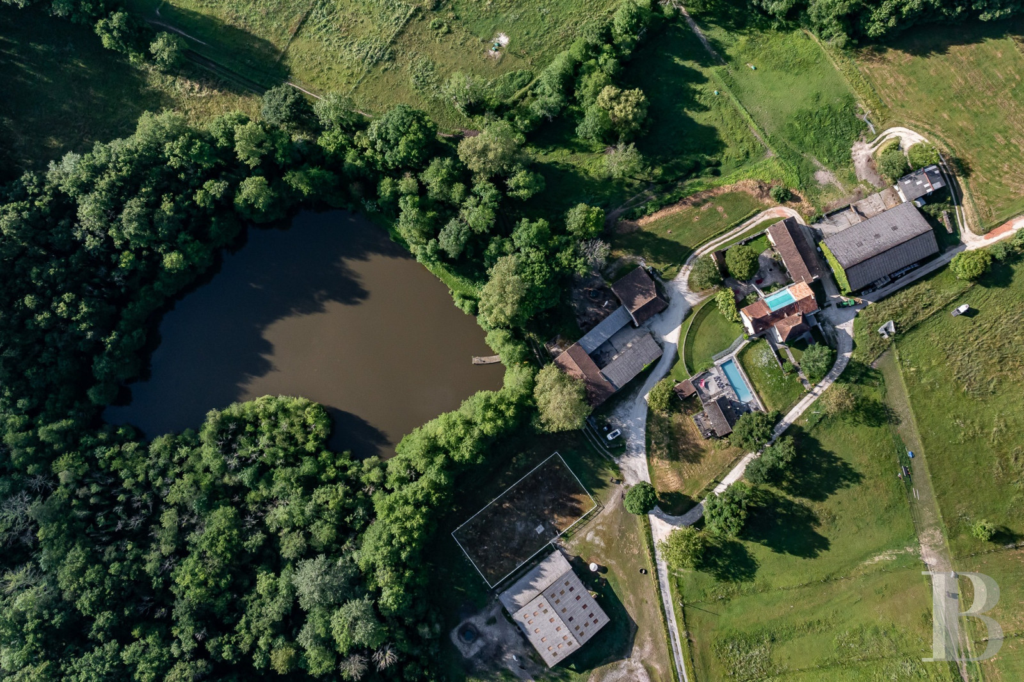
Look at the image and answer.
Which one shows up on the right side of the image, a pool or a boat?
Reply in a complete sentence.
What appears on the right side of the image is a pool.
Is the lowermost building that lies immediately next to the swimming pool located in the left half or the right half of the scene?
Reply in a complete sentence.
It is on the right.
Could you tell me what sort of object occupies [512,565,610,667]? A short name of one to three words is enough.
barn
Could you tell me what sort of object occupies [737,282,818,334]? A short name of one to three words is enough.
house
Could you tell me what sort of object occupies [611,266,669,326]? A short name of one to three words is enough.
barn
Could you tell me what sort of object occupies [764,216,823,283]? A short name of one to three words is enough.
house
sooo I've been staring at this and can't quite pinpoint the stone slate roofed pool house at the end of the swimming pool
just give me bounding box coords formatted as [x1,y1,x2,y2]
[703,397,739,437]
